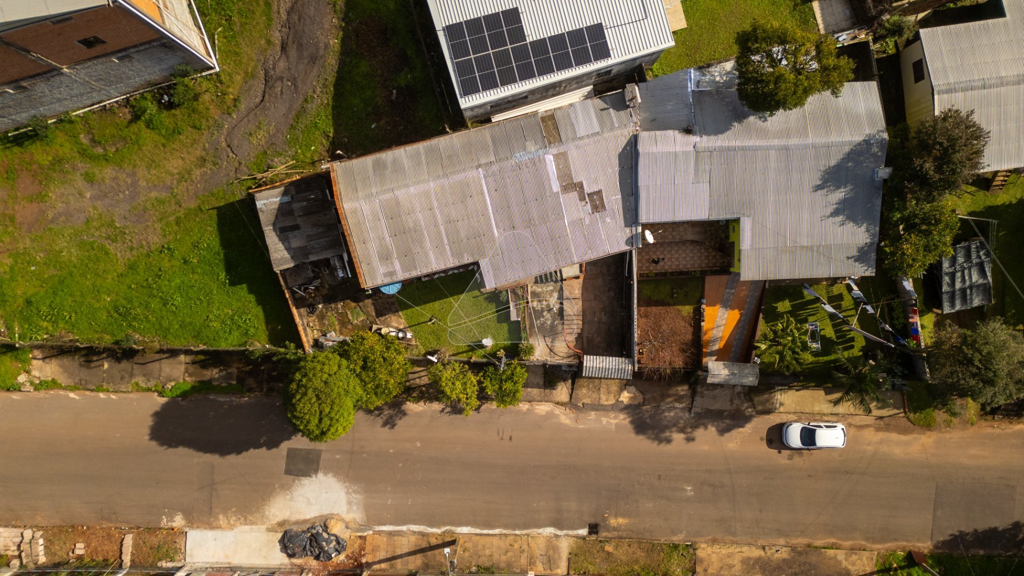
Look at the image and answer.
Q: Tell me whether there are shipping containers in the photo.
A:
No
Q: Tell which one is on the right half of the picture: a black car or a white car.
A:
white car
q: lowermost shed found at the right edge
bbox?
[925,239,993,314]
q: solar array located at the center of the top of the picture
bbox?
[444,8,613,97]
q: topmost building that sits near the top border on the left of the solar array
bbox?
[0,0,219,130]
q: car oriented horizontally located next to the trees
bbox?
[780,418,847,449]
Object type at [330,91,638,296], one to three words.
house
